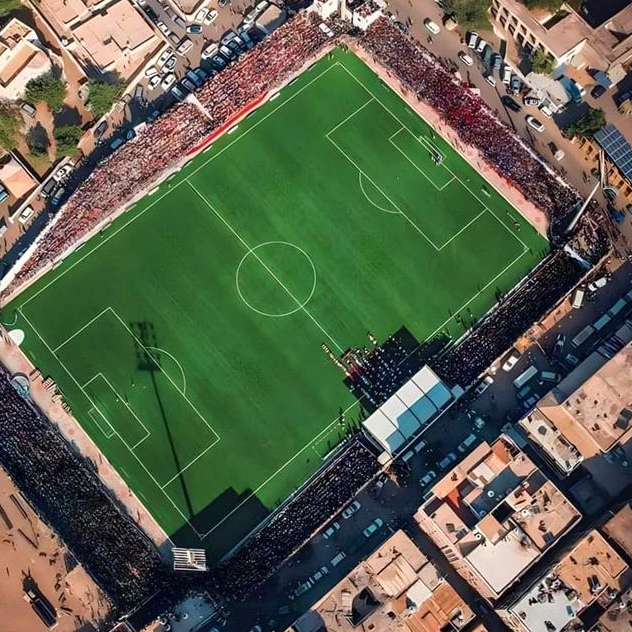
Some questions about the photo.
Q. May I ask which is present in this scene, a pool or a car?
car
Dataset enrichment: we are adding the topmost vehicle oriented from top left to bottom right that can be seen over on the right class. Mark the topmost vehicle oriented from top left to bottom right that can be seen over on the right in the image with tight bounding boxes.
[424,18,442,34]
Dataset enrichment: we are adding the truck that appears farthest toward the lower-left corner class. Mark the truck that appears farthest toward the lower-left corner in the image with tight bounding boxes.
[26,585,56,623]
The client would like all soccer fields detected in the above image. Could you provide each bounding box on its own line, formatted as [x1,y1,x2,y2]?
[0,42,554,562]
